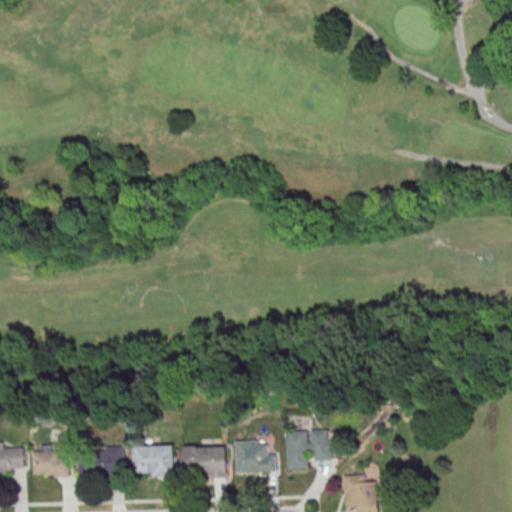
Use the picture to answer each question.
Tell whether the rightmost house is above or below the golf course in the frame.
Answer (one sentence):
The rightmost house is below the golf course.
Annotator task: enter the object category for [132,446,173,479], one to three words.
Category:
house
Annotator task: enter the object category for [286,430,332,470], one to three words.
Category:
house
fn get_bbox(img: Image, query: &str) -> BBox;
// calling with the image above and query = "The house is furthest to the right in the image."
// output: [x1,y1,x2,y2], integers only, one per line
[343,476,378,512]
